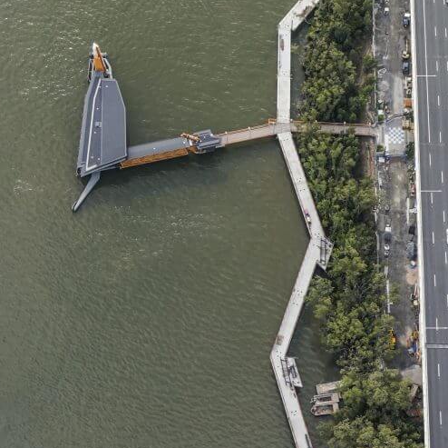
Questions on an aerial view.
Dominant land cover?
water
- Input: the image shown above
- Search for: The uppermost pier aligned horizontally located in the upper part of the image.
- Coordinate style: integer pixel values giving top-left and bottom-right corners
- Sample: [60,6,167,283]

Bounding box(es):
[217,125,275,148]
